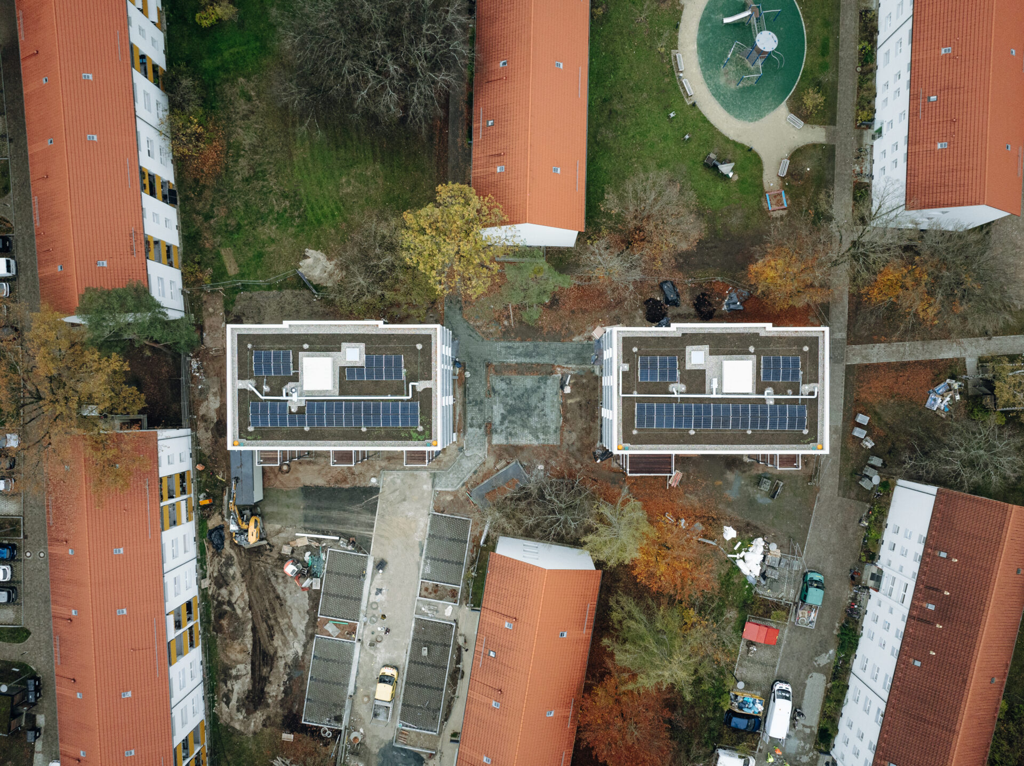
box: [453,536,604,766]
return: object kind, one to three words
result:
house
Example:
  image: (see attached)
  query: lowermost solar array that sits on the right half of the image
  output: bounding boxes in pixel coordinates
[635,404,807,429]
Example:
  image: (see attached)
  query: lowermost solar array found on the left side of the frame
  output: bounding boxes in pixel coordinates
[249,402,420,426]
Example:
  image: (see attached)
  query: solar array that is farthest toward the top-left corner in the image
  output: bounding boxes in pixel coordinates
[252,351,293,375]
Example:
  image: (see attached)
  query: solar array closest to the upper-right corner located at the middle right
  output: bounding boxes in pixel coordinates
[761,356,800,381]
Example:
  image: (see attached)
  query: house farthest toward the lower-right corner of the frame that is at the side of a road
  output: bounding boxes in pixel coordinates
[827,480,1024,766]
